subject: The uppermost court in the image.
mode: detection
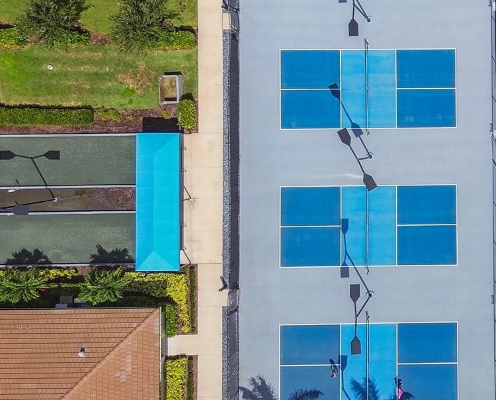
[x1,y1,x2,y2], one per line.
[280,49,457,130]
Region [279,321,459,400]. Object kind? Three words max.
sports court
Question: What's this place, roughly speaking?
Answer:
sports ground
